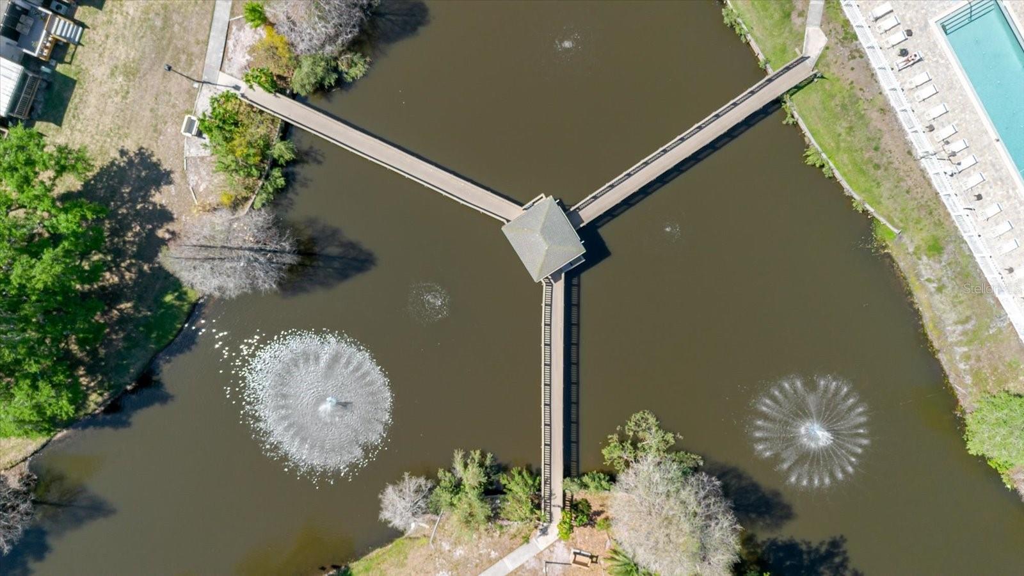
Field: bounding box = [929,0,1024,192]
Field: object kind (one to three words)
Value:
swimming pool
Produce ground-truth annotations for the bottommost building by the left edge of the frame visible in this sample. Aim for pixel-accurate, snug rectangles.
[0,58,59,132]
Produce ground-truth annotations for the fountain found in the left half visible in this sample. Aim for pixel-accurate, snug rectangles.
[216,327,390,492]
